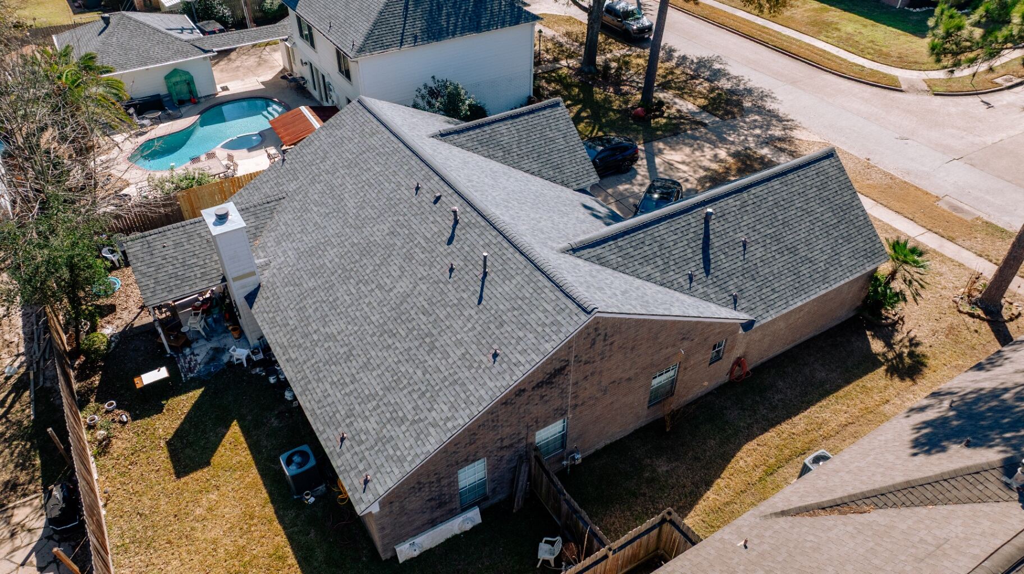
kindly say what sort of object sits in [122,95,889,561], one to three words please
house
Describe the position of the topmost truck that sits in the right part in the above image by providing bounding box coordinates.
[602,0,650,41]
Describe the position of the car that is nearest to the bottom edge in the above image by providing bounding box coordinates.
[616,172,683,224]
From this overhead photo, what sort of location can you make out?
residential area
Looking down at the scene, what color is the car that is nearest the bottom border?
black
